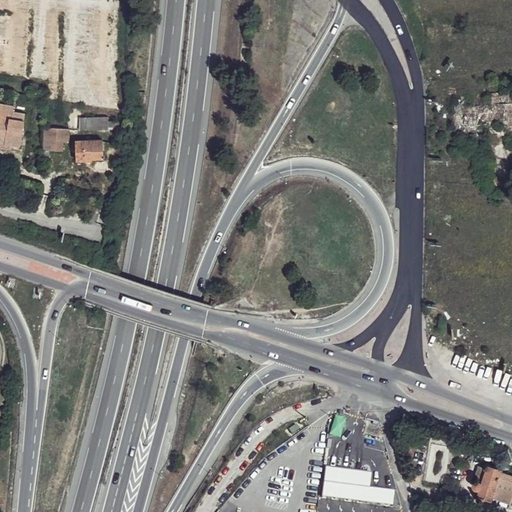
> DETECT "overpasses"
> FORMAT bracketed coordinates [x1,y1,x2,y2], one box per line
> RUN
[84,268,264,358]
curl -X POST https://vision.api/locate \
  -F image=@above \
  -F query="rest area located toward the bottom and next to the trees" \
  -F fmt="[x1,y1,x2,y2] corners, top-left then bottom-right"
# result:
[321,413,401,512]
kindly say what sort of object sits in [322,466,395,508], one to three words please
building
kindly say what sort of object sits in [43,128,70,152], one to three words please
house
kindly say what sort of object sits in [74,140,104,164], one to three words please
house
